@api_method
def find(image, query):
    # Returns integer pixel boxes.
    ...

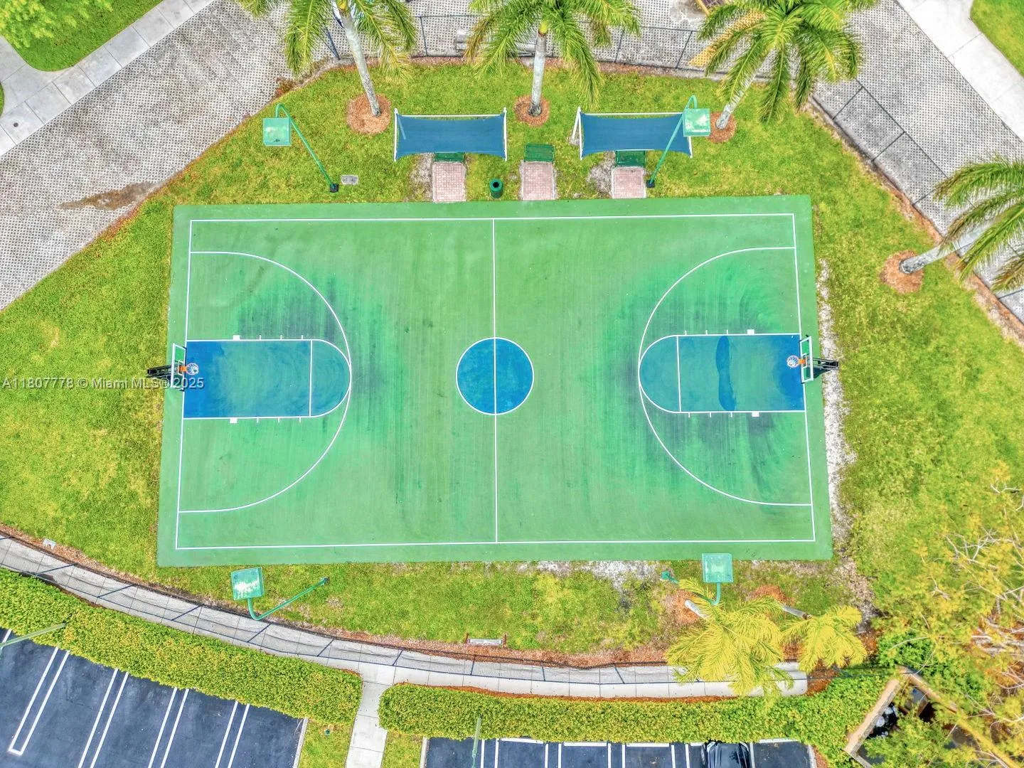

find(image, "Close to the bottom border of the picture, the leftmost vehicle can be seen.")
[706,740,754,768]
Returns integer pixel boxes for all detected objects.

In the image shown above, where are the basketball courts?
[157,196,832,567]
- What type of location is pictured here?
sports ground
